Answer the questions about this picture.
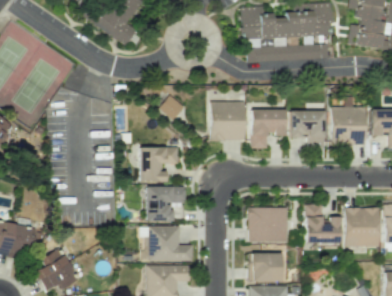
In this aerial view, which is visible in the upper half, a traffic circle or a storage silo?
traffic circle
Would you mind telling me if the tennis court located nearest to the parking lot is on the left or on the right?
left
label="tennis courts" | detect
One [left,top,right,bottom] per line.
[0,44,73,130]
[0,22,42,108]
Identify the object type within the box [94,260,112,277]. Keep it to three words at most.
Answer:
swimming pool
